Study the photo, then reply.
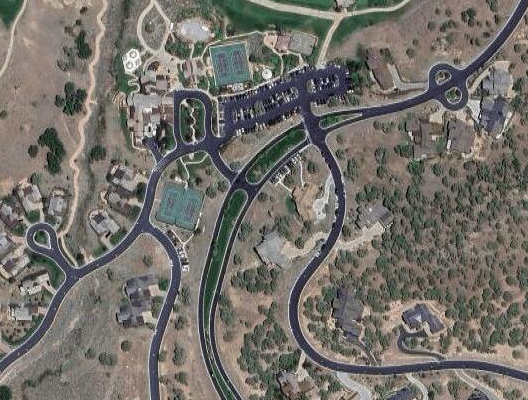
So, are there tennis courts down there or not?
Yes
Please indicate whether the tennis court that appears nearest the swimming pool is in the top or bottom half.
top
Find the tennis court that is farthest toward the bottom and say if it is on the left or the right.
left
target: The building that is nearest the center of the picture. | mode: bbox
[256,230,292,268]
